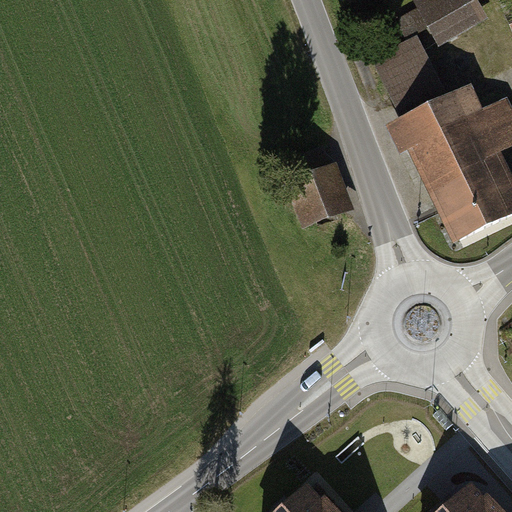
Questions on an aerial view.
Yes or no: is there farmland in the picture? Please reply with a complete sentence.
Yes, farmland shows up in the scene.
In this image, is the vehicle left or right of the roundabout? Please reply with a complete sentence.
The vehicle appears to the left of the roundabout in this view.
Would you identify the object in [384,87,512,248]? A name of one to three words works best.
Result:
house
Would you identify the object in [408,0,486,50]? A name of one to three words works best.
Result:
barn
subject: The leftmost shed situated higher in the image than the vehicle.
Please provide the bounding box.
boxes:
[290,166,356,229]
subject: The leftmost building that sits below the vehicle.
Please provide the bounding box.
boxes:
[276,482,348,512]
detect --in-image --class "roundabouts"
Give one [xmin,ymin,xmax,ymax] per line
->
[330,234,512,456]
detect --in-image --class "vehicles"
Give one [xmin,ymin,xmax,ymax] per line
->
[300,370,322,393]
